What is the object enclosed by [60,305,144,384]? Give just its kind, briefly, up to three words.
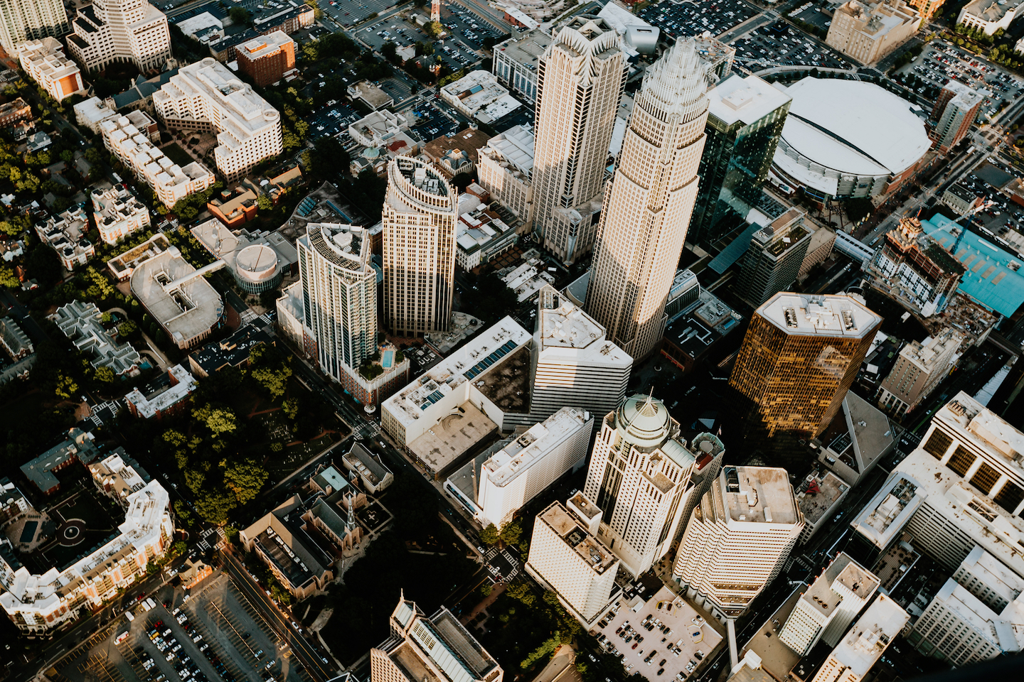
house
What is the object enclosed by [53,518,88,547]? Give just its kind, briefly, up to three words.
fountain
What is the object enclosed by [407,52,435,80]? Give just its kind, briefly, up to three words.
building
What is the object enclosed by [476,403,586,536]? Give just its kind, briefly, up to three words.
building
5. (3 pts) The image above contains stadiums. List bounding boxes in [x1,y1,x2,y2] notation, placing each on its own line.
[766,76,932,206]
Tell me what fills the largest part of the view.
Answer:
buildings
